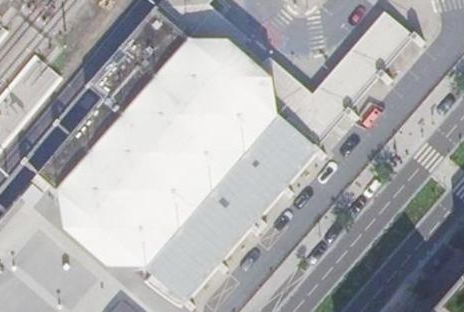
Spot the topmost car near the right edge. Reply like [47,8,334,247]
[436,93,456,115]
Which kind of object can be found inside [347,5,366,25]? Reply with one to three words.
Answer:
car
